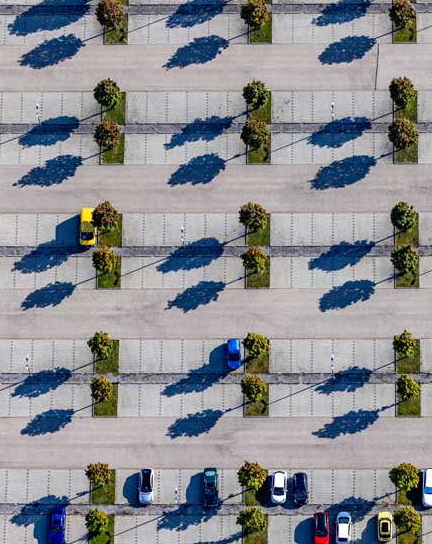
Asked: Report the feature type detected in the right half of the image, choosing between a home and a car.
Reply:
car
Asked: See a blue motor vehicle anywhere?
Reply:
Yes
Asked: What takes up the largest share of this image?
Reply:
paved ground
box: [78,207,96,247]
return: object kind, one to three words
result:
vehicle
